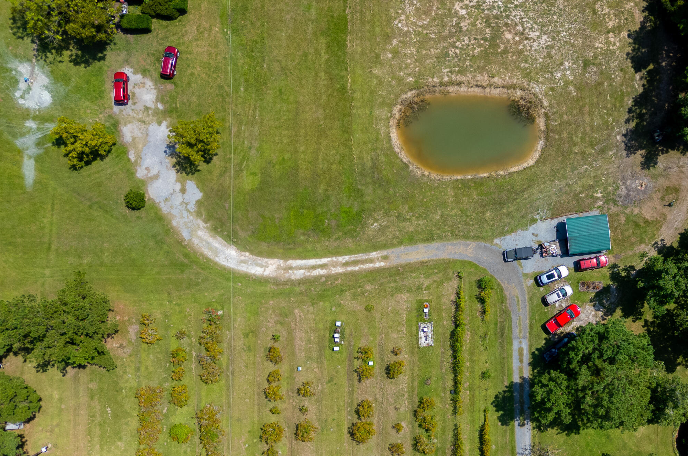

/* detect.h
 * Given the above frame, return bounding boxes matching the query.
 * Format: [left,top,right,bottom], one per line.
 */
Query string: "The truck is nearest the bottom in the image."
[539,332,575,366]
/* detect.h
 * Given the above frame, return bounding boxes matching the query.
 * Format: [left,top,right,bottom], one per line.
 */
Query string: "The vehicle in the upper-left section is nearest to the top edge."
[160,48,181,82]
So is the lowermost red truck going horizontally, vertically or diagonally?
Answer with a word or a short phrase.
diagonally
